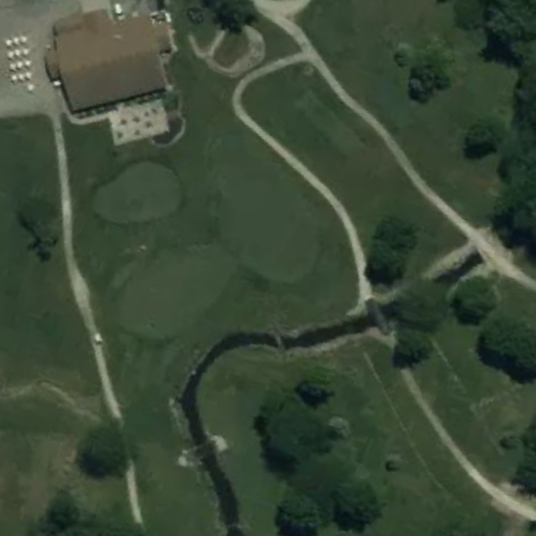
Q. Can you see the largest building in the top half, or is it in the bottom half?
top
